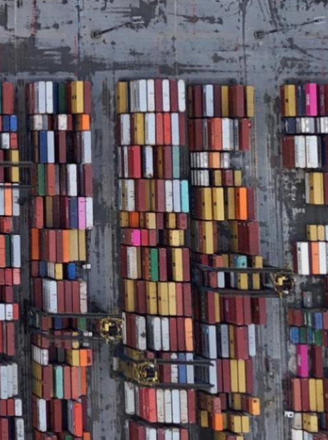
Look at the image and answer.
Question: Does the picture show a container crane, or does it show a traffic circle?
container crane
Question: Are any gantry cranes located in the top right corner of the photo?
No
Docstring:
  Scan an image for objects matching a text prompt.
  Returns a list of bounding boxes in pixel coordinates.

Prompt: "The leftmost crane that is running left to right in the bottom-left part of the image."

[28,301,119,344]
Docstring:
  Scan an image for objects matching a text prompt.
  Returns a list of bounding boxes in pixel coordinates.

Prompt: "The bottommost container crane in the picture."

[115,345,212,392]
